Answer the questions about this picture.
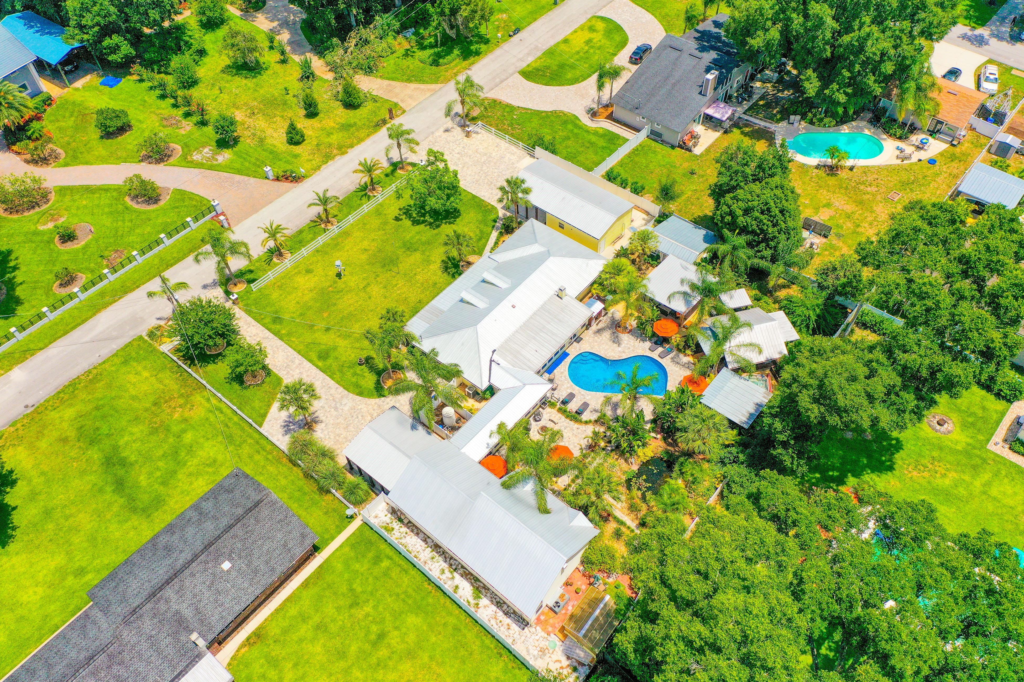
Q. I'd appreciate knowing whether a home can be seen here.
Yes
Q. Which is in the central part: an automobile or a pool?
pool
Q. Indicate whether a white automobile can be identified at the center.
No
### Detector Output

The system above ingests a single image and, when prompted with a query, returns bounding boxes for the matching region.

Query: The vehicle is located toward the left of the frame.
[58,55,76,76]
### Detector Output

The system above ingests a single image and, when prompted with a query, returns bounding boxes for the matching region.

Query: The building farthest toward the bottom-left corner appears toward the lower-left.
[3,466,320,682]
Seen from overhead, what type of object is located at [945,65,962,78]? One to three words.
vehicle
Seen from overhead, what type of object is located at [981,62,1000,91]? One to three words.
car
